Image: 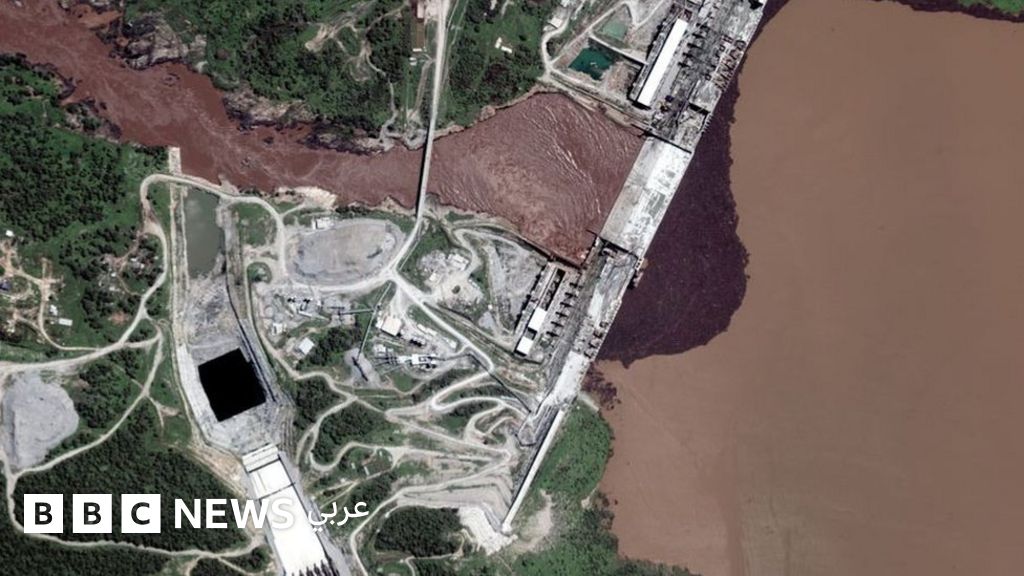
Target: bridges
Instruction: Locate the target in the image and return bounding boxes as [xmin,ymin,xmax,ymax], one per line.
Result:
[415,119,434,218]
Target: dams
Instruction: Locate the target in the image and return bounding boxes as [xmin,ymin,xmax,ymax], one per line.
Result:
[500,0,766,539]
